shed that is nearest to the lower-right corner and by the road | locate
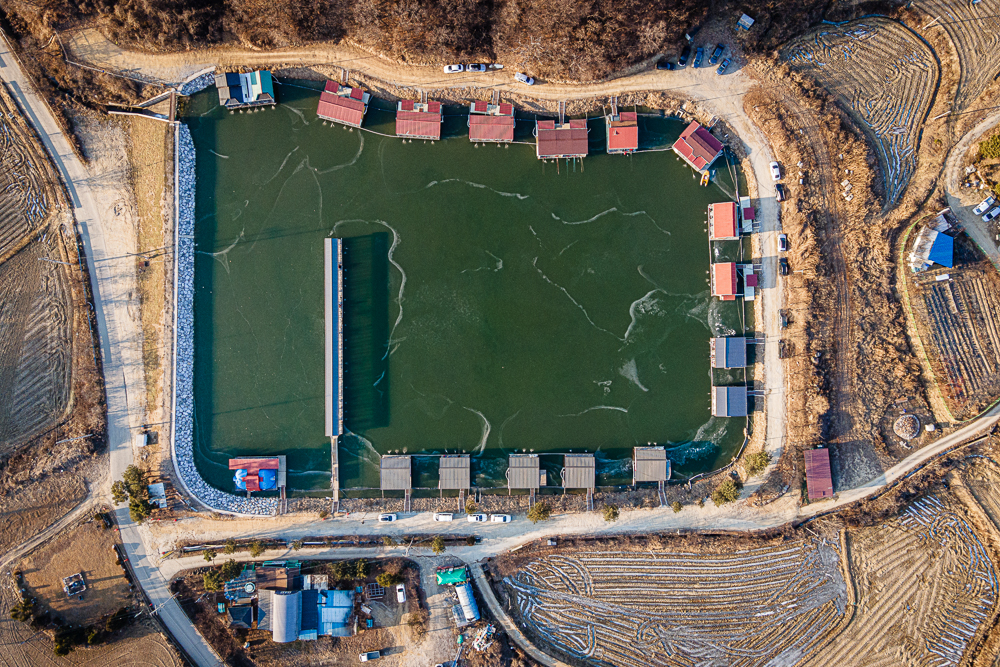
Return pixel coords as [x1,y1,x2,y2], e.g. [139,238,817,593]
[798,446,833,498]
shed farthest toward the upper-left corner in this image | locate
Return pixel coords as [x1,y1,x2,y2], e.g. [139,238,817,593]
[219,74,280,113]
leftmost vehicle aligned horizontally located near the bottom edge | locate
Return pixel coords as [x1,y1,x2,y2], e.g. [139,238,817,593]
[357,650,380,664]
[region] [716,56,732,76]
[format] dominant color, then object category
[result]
blue car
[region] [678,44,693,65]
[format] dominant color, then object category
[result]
black car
